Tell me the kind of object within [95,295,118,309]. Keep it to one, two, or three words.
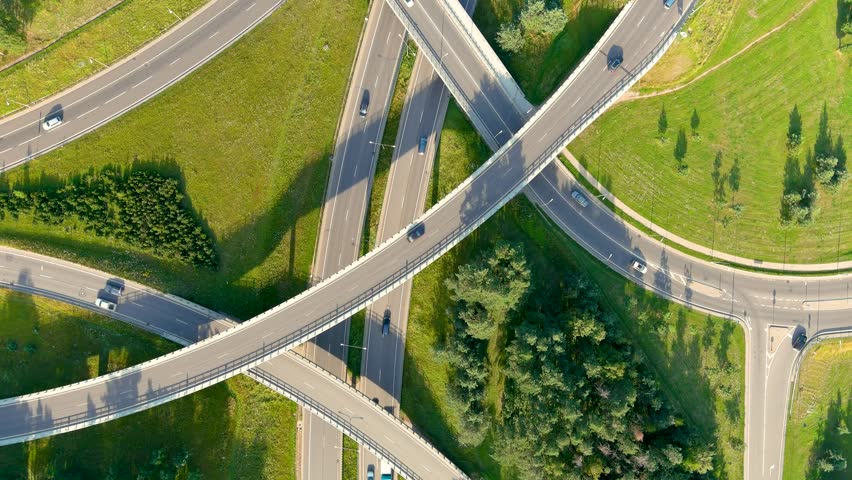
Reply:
vehicle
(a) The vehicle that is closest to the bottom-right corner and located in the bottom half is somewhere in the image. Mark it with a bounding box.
[791,331,807,349]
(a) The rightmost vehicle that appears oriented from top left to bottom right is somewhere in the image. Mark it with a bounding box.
[630,260,647,275]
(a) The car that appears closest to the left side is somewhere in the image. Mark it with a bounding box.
[42,117,63,131]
